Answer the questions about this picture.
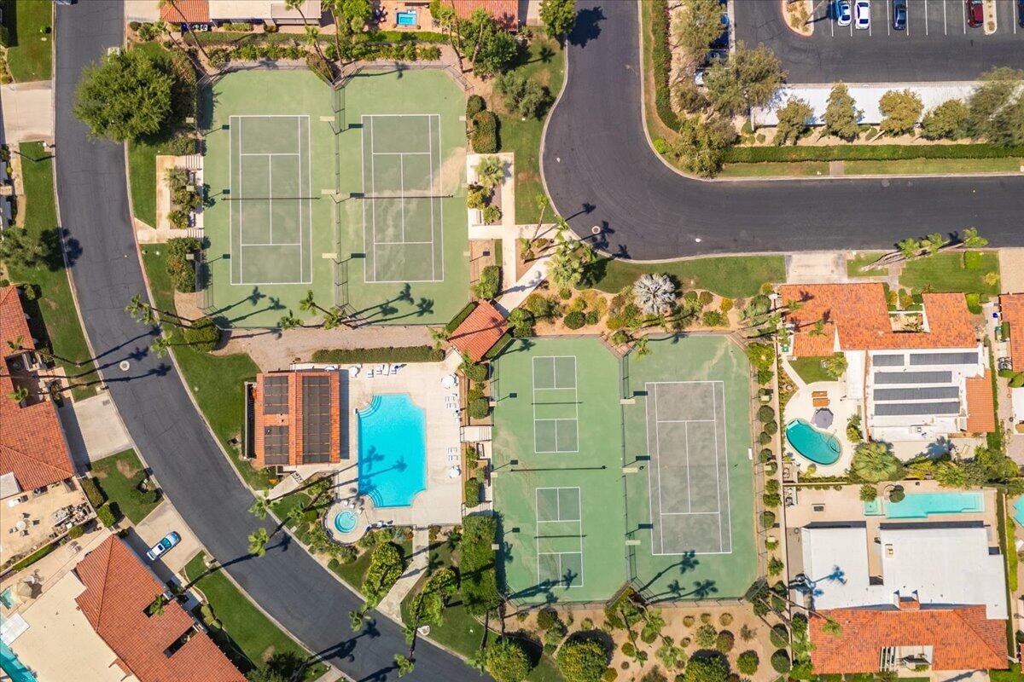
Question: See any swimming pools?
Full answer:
Yes, there's a swimming pool here.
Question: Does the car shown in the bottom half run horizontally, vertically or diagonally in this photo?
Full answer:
The car shown in the bottom half is laid out diagonally.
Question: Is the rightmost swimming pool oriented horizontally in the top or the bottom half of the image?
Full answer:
It is in the bottom half that the rightmost swimming pool oriented horizontally appears.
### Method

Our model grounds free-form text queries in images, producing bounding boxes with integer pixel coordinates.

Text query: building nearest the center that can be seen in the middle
[448,300,508,361]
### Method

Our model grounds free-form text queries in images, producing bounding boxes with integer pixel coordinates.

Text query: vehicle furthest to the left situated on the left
[144,532,180,564]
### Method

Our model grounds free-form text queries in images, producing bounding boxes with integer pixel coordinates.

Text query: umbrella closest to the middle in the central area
[439,372,457,390]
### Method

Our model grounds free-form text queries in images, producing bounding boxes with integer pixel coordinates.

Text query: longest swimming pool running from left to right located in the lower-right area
[883,490,987,522]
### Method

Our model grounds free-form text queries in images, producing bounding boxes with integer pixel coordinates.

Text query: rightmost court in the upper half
[336,70,469,327]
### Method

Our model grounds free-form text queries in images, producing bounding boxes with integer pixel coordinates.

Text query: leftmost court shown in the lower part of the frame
[492,338,629,605]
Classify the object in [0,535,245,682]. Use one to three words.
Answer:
house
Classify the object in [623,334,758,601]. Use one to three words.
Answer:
tennis court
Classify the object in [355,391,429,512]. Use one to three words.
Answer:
swimming pool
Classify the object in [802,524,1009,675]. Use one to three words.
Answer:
house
